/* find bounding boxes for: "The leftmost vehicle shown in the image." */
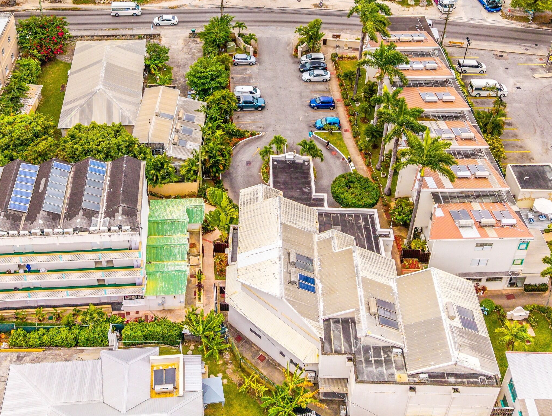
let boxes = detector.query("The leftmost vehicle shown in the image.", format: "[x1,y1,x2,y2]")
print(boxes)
[111,1,141,16]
